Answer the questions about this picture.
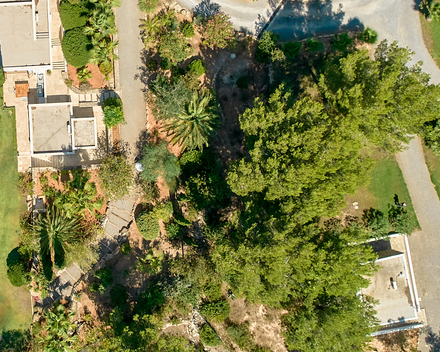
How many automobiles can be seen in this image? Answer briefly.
0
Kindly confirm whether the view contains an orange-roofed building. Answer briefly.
No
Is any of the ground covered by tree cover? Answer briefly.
Yes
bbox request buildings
[0,0,52,73]
[29,103,97,156]
[347,249,418,327]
